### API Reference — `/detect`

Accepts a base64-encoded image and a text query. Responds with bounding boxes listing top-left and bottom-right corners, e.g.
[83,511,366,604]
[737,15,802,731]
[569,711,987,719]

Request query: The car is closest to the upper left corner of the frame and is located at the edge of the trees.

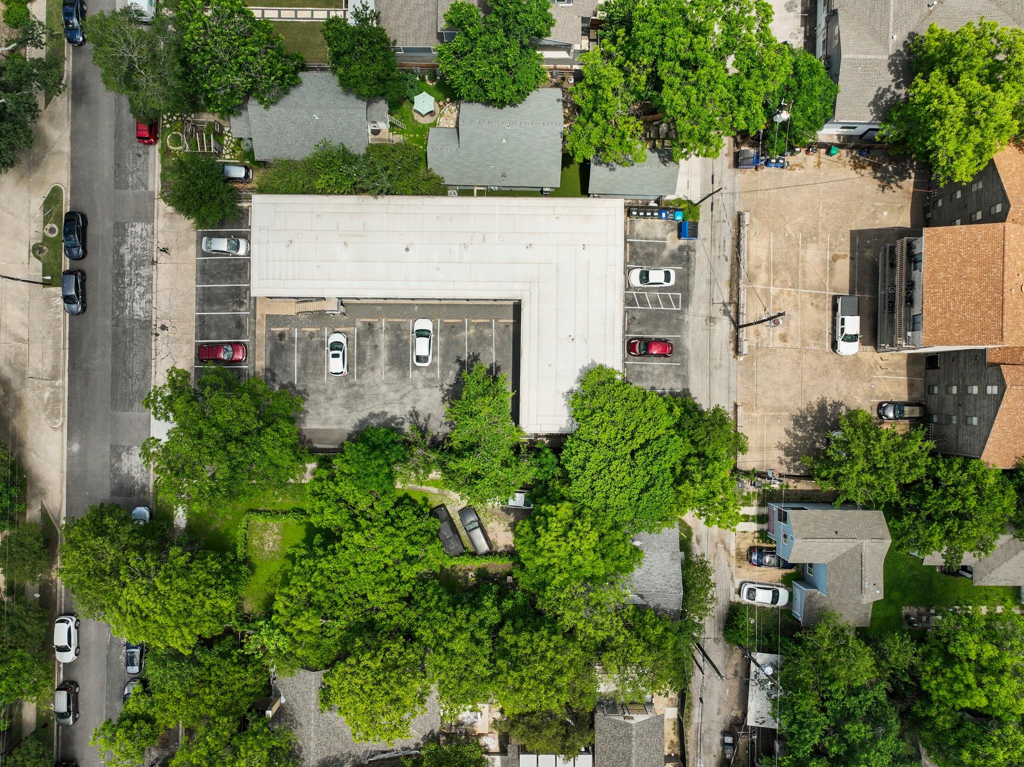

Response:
[61,0,88,46]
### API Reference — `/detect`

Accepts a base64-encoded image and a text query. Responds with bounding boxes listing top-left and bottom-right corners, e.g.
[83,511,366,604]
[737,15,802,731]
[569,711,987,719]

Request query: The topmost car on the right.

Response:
[626,266,674,289]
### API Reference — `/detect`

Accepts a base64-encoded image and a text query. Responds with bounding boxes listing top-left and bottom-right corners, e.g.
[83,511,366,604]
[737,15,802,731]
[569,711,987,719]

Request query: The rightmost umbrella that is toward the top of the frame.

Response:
[415,94,435,117]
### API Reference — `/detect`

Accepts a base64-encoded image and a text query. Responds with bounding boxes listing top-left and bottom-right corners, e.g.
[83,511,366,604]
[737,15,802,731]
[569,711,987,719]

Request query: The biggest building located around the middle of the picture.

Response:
[251,195,625,434]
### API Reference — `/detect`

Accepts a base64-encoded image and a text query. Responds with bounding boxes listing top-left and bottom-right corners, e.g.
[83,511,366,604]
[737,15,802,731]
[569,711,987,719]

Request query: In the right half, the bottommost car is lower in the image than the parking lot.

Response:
[739,583,788,608]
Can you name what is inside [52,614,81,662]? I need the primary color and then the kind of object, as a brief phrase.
white car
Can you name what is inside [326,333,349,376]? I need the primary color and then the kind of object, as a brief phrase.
white car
